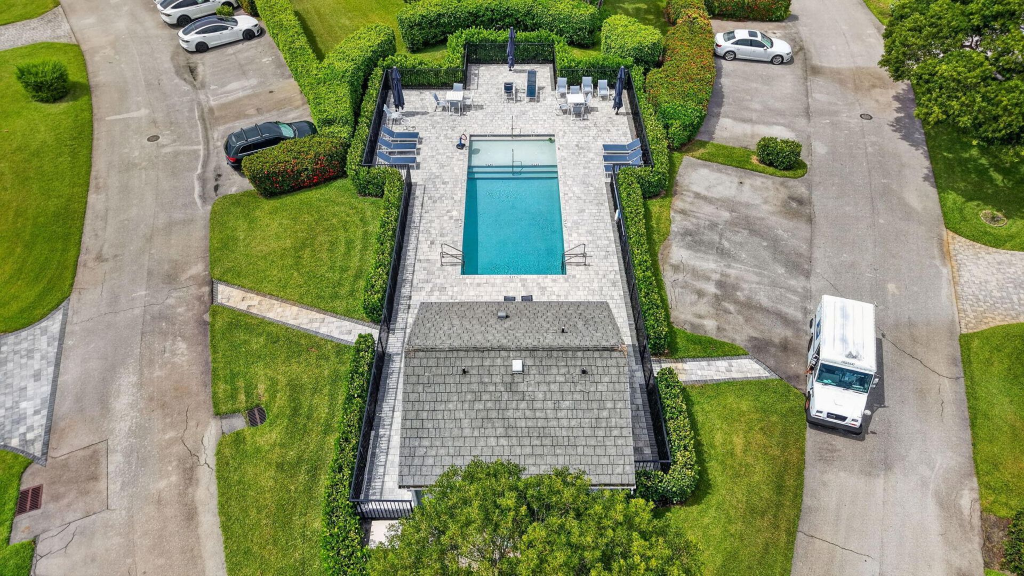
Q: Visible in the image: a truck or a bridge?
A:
truck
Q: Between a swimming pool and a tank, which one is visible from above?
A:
swimming pool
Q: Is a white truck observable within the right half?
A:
Yes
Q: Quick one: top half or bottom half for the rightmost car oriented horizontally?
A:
top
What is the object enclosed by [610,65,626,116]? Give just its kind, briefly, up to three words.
umbrella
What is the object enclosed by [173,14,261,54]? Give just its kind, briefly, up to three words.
car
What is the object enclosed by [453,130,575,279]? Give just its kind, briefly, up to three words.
swimming pool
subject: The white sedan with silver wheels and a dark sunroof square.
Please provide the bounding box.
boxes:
[714,29,797,65]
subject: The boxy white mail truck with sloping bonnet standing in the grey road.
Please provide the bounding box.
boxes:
[799,295,883,437]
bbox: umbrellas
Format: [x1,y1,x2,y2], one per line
[610,65,626,116]
[391,65,407,112]
[506,25,516,72]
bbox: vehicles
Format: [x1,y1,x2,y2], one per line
[155,0,239,27]
[225,120,326,175]
[714,29,797,65]
[799,295,883,437]
[173,14,261,54]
